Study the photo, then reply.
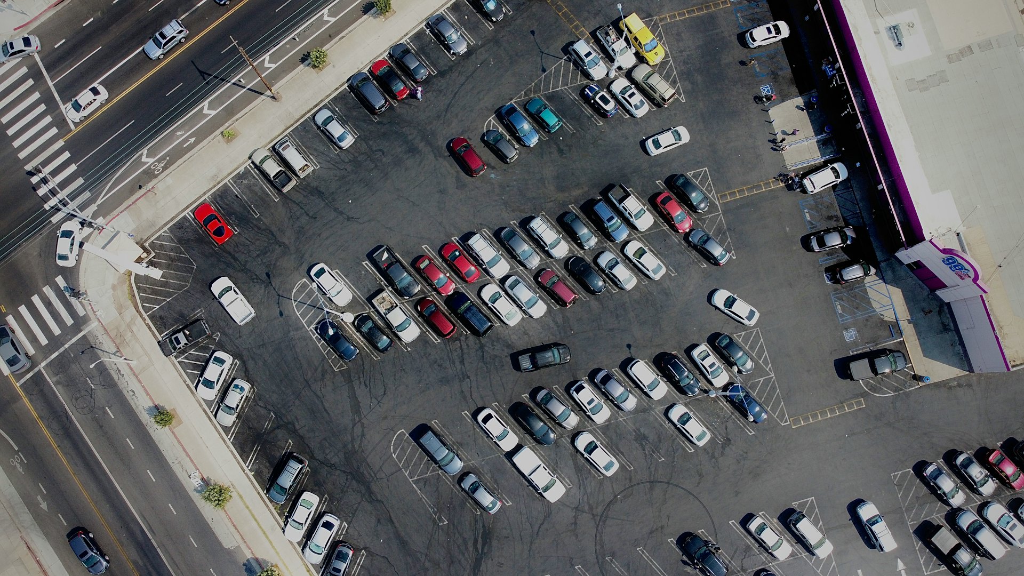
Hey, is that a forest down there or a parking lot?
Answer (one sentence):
The area seen from above is a parking lot.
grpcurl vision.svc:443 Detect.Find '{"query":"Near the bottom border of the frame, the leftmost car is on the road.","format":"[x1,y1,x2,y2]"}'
[69,527,108,574]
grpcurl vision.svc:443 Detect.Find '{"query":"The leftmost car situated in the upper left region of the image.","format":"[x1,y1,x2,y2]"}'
[0,35,42,65]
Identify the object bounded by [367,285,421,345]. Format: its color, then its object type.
white truck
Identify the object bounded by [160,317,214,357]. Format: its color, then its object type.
black truck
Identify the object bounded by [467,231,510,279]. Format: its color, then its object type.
white car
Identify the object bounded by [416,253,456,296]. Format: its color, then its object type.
red car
